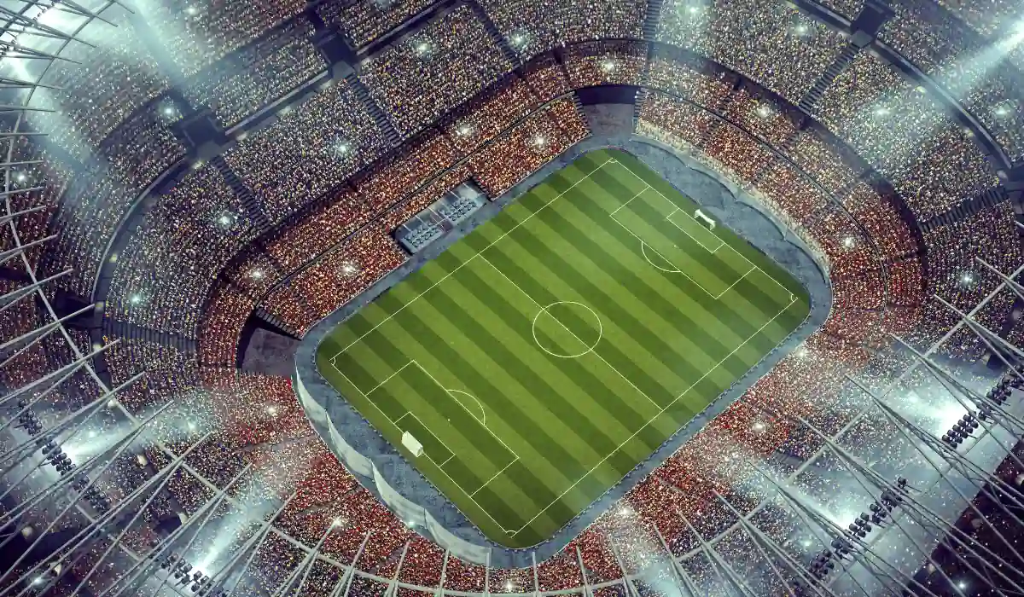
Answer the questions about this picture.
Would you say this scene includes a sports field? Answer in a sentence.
Yes, a sports field is visible in the scene.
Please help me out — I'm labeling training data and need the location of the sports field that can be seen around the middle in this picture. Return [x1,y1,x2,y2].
[318,150,810,549]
